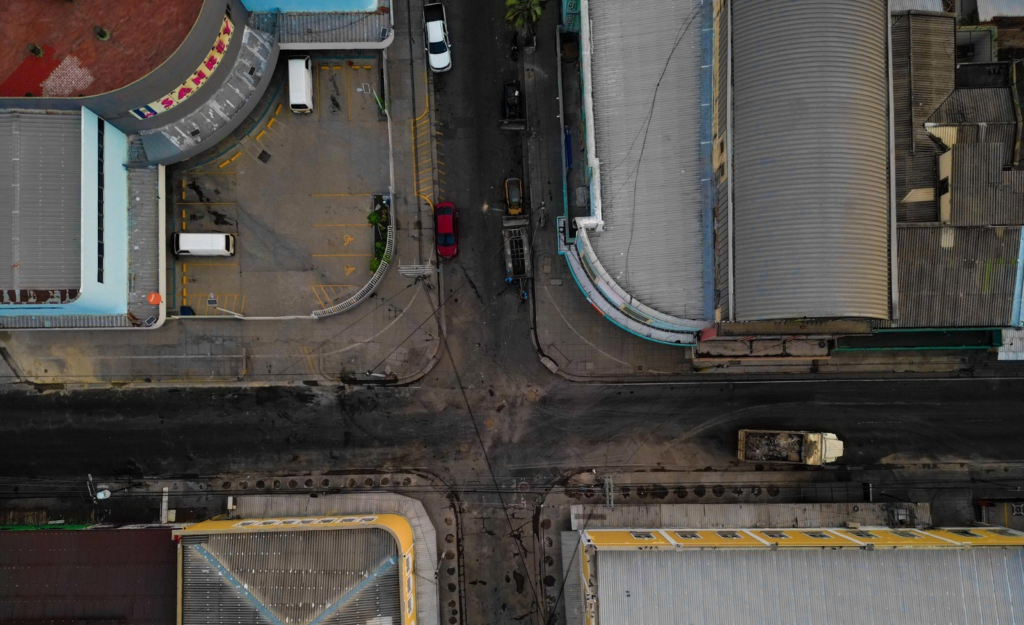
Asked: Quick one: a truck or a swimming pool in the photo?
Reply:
truck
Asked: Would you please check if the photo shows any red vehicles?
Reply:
Yes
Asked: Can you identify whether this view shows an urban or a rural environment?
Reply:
urban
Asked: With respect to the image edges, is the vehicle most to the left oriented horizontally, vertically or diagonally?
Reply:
horizontally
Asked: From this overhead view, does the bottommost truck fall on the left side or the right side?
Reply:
right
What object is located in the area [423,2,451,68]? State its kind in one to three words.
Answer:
truck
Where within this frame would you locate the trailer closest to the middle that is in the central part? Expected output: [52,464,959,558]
[504,229,533,294]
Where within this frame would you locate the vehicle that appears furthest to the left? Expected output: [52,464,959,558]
[172,230,235,257]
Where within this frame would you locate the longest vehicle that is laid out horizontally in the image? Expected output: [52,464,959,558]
[732,429,845,468]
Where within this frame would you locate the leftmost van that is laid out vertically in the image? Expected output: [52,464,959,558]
[287,56,315,115]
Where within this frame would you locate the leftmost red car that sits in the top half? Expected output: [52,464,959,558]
[432,201,459,257]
